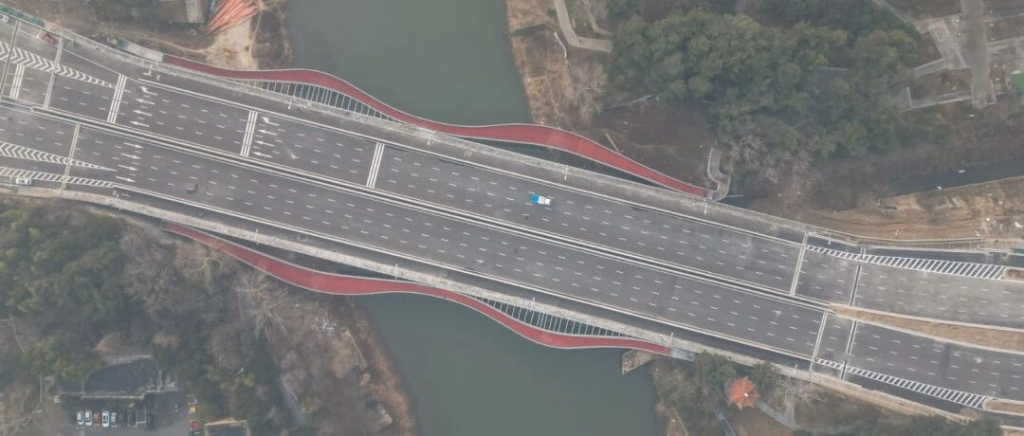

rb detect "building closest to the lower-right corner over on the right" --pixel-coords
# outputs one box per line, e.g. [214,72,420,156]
[727,376,761,408]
